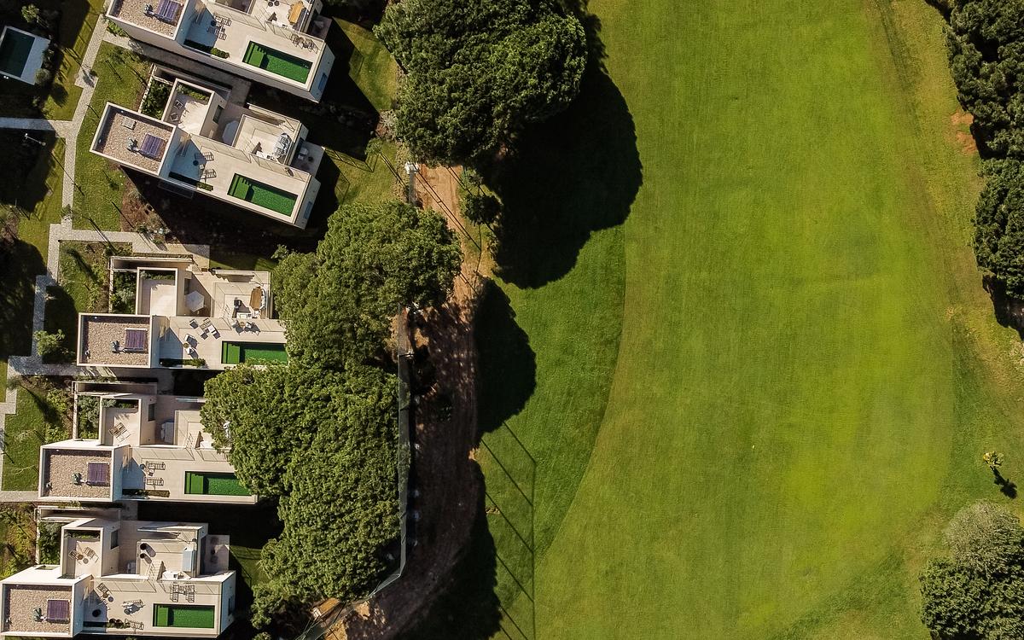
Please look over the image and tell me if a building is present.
Yes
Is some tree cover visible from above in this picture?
Yes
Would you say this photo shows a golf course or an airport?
golf course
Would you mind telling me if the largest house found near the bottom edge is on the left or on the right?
left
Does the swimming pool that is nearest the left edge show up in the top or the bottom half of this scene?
top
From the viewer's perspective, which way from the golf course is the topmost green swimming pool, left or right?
on its left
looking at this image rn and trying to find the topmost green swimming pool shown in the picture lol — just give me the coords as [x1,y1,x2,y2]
[245,41,312,83]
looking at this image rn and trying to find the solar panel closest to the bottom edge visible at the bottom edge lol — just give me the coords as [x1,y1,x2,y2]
[50,597,73,620]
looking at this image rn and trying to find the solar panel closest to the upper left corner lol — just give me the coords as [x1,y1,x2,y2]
[157,0,185,23]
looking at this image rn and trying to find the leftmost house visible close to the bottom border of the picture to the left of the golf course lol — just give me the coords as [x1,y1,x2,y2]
[2,505,234,639]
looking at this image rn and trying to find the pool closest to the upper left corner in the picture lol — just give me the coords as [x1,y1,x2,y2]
[0,23,49,84]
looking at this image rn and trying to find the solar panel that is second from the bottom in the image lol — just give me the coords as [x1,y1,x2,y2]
[88,459,111,483]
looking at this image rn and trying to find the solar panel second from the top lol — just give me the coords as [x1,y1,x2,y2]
[142,128,169,158]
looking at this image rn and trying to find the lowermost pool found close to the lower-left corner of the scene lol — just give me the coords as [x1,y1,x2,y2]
[149,602,214,625]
